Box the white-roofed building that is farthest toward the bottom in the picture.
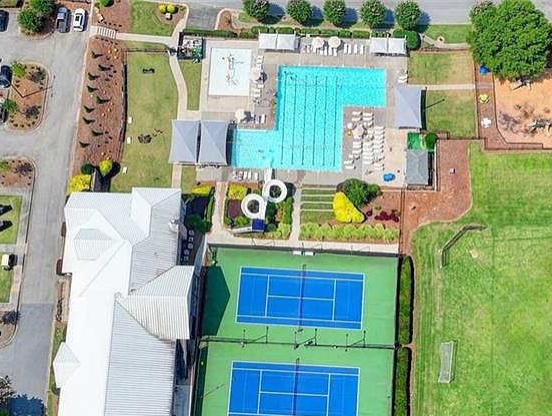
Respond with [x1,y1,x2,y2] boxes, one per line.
[52,186,199,416]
